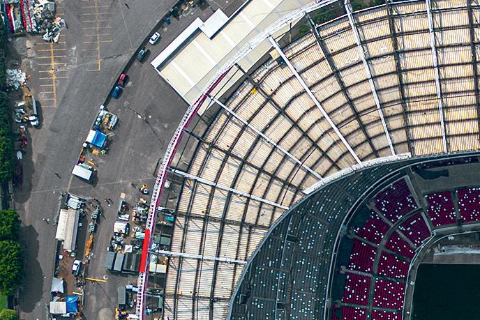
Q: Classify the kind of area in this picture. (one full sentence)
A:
It's a sports ground.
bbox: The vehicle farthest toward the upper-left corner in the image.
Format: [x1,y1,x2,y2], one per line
[27,98,40,125]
